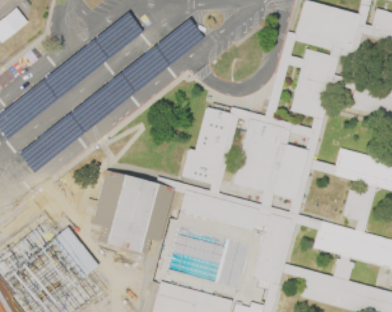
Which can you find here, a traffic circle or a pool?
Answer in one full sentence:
The image shows a pool.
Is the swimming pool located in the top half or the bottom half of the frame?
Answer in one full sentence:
The swimming pool sits in the bottom half of the picture.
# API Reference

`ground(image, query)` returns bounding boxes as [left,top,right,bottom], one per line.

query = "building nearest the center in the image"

[184,106,241,188]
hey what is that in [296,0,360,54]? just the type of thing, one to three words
building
